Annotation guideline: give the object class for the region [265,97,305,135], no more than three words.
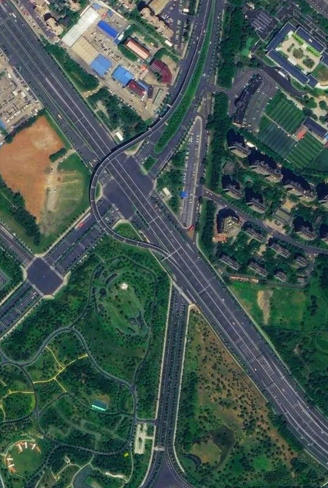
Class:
soccer field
